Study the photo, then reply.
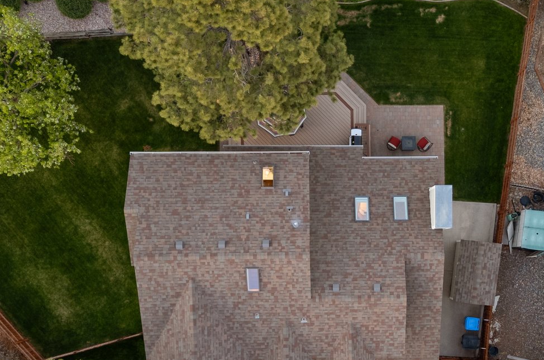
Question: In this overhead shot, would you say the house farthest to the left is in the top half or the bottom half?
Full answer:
You can find the house farthest to the left in the bottom half.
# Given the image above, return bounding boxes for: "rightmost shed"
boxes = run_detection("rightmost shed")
[503,205,544,255]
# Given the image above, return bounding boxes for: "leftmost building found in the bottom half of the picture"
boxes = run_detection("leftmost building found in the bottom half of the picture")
[124,143,452,360]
